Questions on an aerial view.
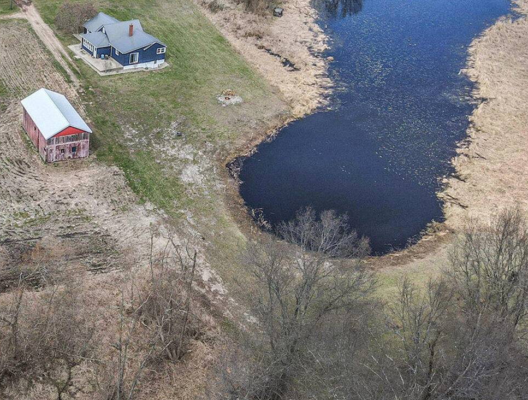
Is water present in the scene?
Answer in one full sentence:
Yes, there's water in this view.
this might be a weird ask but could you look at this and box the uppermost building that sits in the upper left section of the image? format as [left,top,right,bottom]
[62,12,172,77]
